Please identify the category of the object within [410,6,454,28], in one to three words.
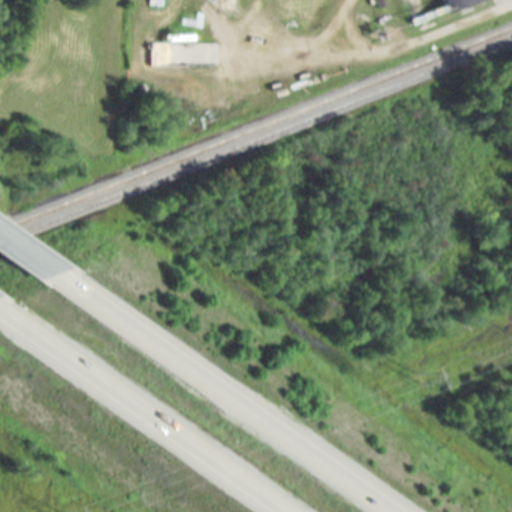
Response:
house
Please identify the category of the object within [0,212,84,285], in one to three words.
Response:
bridge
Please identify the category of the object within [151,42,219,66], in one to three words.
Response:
barn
